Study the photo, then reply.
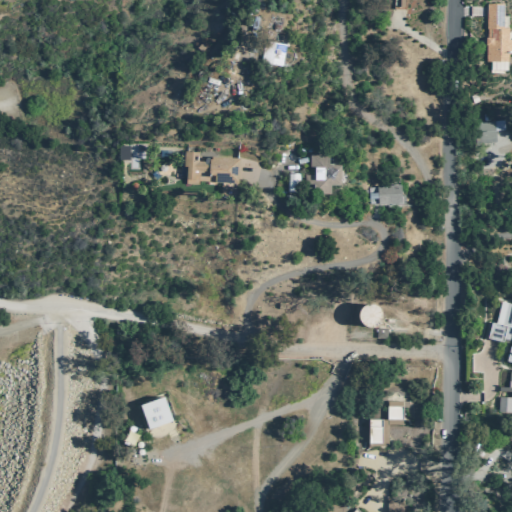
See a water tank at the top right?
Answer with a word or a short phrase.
No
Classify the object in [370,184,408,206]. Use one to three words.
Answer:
house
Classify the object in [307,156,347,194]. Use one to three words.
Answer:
house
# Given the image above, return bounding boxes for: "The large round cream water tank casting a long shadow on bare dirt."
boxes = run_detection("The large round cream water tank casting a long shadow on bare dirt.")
[360,304,384,328]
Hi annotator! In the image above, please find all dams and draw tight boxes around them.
[0,313,98,512]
